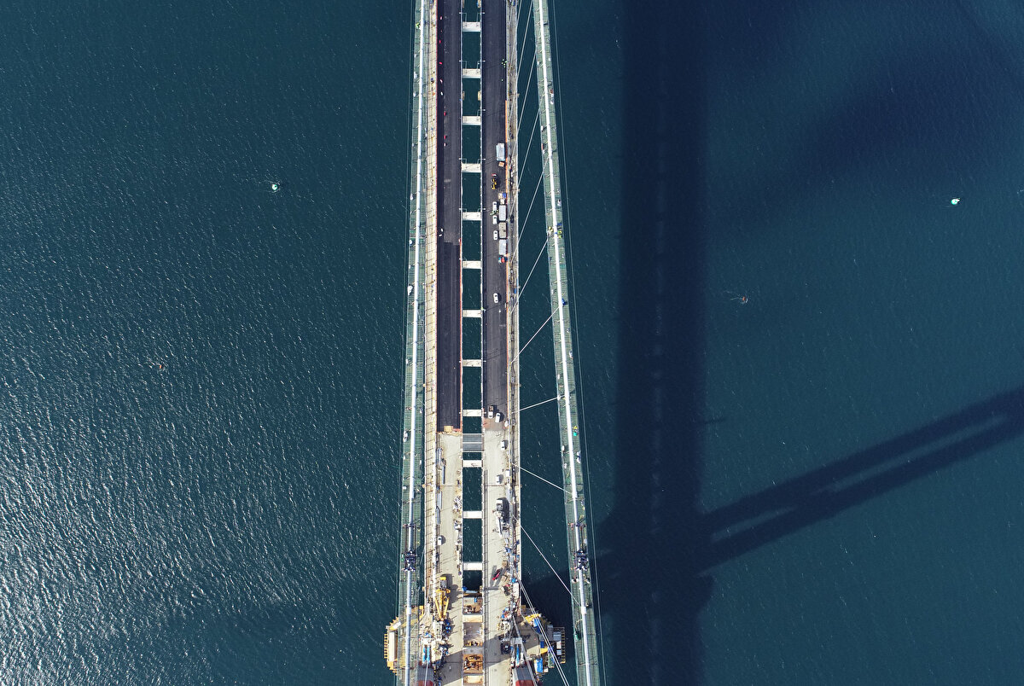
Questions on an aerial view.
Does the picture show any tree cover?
No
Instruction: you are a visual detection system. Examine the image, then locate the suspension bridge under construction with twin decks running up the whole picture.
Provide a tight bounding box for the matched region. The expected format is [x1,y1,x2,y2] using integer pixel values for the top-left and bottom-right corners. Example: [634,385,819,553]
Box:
[404,0,590,686]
